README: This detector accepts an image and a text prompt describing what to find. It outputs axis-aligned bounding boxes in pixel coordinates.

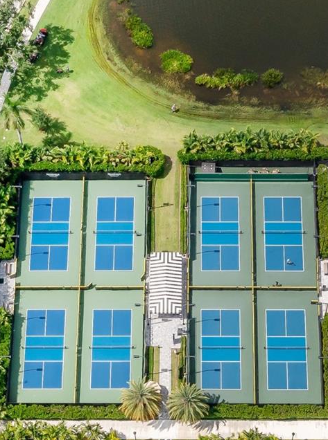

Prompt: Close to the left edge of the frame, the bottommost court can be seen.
[9,289,79,403]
